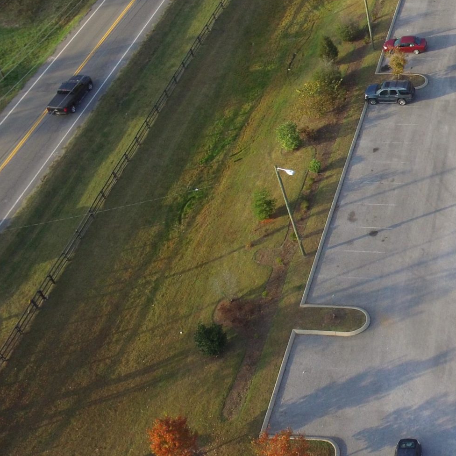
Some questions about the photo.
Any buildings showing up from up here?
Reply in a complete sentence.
No, no building is visible in the scene.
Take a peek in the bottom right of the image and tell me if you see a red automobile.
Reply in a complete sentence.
No, there is no red automobile in the bottom right of the image.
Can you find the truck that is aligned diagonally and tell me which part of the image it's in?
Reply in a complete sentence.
The truck that is aligned diagonally is in the top left part of the image.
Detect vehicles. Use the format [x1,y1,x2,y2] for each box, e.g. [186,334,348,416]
[392,440,422,456]
[385,35,429,54]
[365,80,419,104]
[53,70,98,110]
